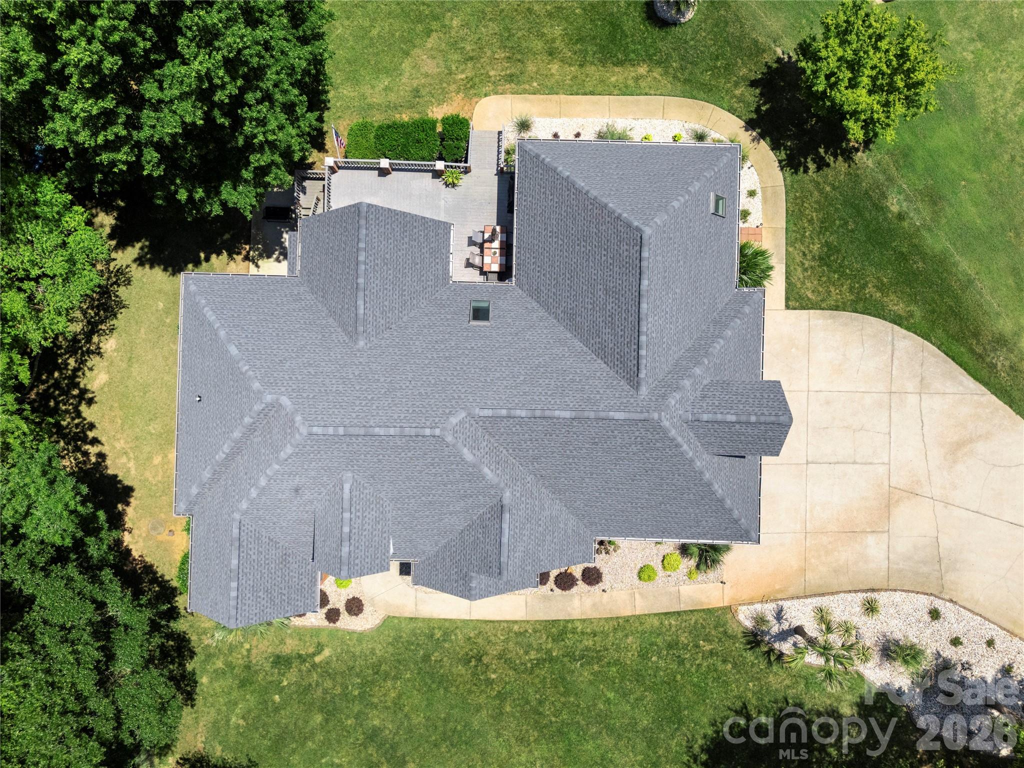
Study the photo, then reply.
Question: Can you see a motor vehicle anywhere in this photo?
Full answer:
No, there isn't any motor vehicle down there.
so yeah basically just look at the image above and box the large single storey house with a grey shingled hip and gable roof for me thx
[176,141,792,629]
